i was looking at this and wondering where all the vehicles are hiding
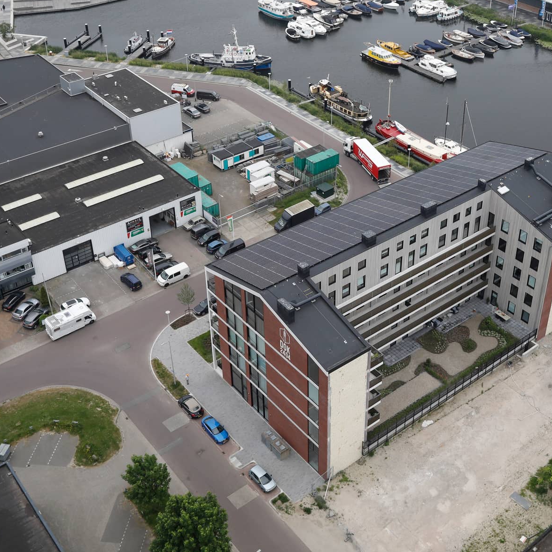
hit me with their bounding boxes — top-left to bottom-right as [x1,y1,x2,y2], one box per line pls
[175,393,208,420]
[314,202,335,216]
[190,296,217,316]
[171,82,195,96]
[117,274,144,290]
[196,87,220,101]
[247,463,277,496]
[203,240,225,255]
[346,140,392,186]
[19,308,52,330]
[195,229,223,247]
[150,256,180,277]
[200,413,230,445]
[8,298,42,321]
[0,290,29,312]
[143,251,174,268]
[135,244,167,260]
[58,296,93,312]
[189,222,217,238]
[47,308,97,341]
[193,102,213,113]
[157,258,191,284]
[277,202,314,230]
[182,107,202,117]
[215,234,247,257]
